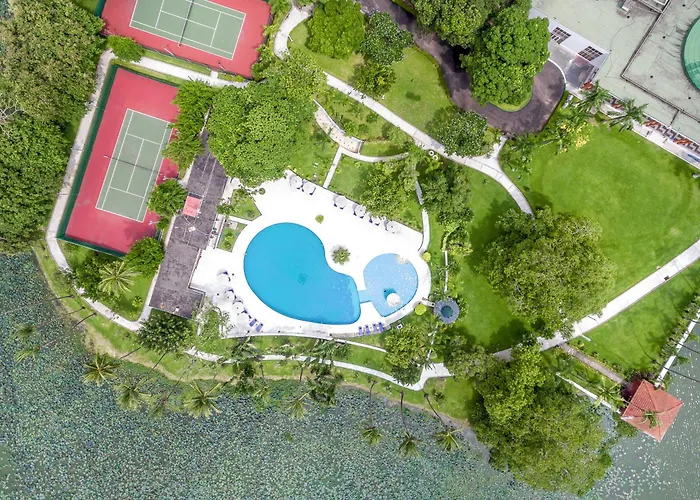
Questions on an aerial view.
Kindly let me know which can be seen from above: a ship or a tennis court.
tennis court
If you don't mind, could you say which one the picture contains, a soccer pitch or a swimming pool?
swimming pool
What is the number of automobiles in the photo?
none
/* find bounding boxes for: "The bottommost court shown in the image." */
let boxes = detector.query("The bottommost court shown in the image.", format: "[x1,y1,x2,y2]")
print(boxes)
[65,68,200,256]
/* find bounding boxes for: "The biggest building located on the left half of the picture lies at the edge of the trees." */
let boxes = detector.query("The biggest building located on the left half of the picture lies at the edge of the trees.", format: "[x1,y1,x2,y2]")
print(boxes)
[149,129,229,319]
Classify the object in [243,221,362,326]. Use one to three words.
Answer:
swimming pool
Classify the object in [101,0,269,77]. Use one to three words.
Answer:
tennis court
